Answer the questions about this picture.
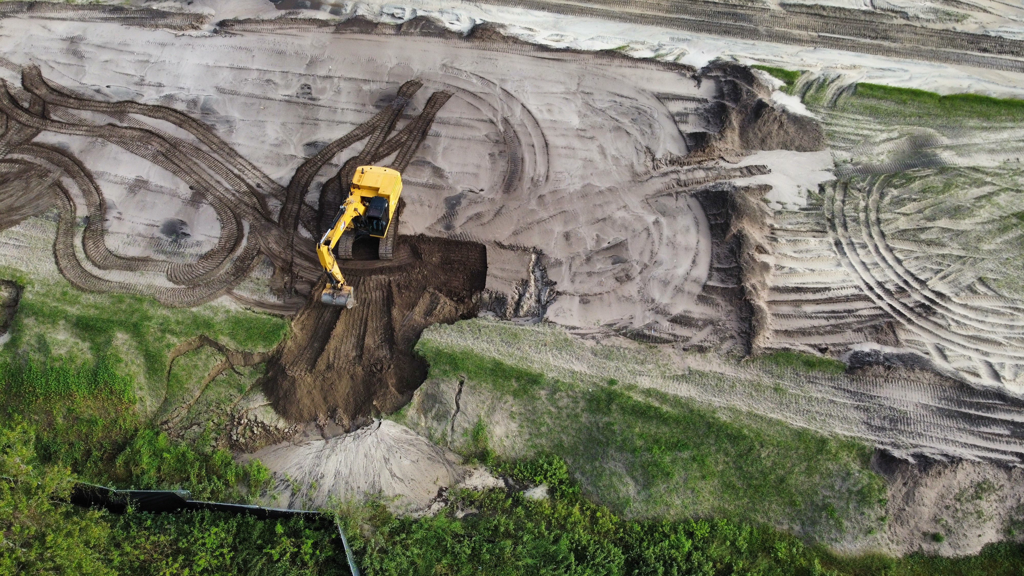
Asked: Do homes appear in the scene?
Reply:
No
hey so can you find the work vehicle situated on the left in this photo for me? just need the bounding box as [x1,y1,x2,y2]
[315,165,403,312]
